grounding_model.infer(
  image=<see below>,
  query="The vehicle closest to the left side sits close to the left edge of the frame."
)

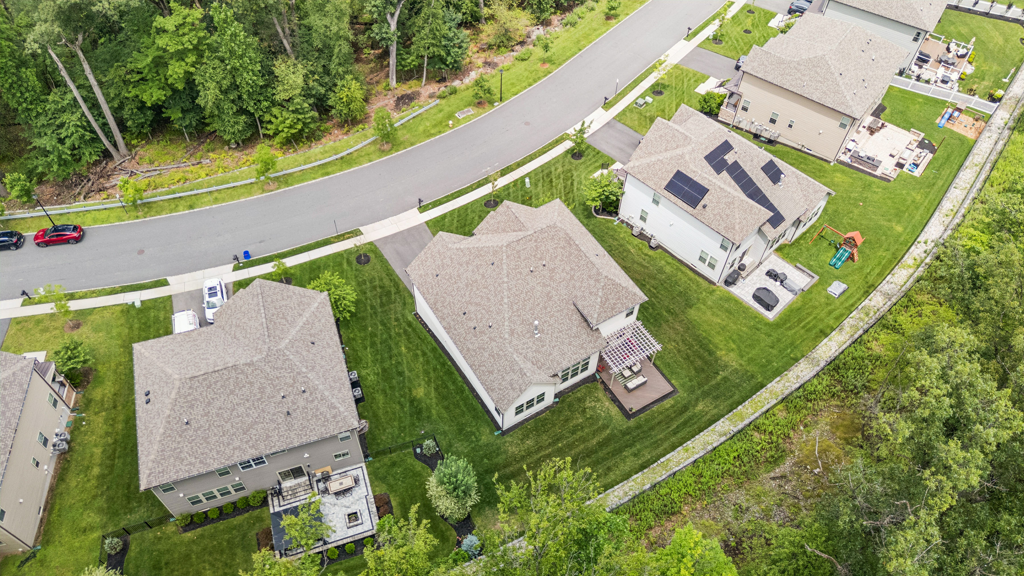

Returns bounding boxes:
[0,228,25,250]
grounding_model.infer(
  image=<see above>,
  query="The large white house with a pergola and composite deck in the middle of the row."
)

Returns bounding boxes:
[401,197,652,432]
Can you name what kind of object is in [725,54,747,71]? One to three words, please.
car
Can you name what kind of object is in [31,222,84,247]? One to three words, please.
car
